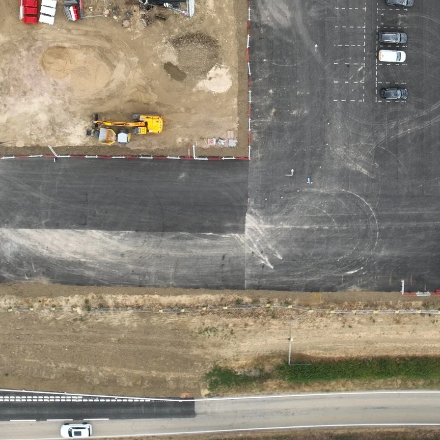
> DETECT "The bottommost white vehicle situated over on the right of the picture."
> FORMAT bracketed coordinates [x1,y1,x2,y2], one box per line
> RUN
[378,50,405,64]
